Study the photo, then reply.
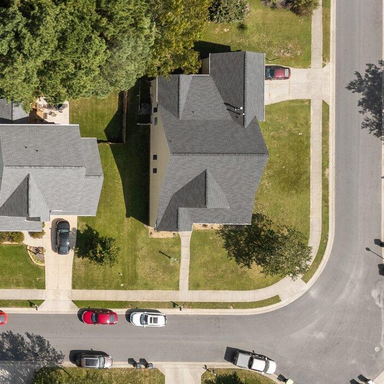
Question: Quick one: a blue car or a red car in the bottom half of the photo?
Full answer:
It is a red car that can be seen in the bottom half of the photo.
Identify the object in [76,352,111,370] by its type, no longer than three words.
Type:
car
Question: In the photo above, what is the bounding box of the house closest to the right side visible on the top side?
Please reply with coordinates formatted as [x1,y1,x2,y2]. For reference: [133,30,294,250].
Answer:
[150,48,267,233]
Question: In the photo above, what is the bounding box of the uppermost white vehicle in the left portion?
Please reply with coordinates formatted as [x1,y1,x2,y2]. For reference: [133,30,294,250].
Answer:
[130,311,167,328]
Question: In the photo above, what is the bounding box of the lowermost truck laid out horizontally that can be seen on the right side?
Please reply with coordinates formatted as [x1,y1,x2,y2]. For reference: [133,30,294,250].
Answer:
[232,350,275,373]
